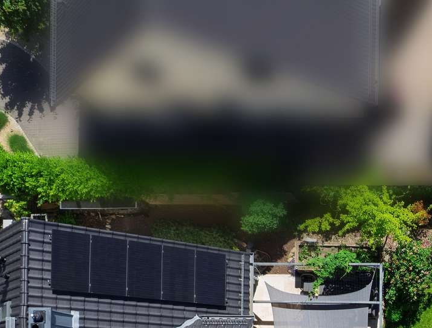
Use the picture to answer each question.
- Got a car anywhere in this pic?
No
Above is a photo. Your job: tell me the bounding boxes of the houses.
[0,215,260,328]
[51,0,380,136]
